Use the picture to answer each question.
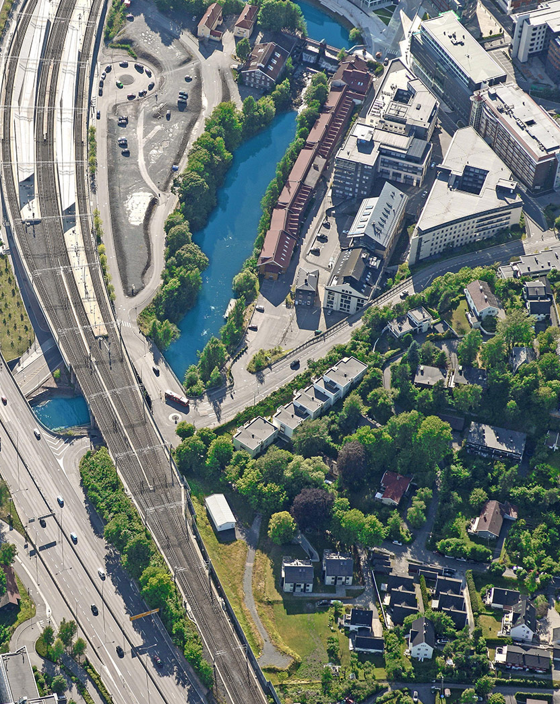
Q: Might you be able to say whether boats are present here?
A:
No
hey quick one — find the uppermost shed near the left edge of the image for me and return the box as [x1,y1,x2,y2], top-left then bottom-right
[0,567,19,613]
